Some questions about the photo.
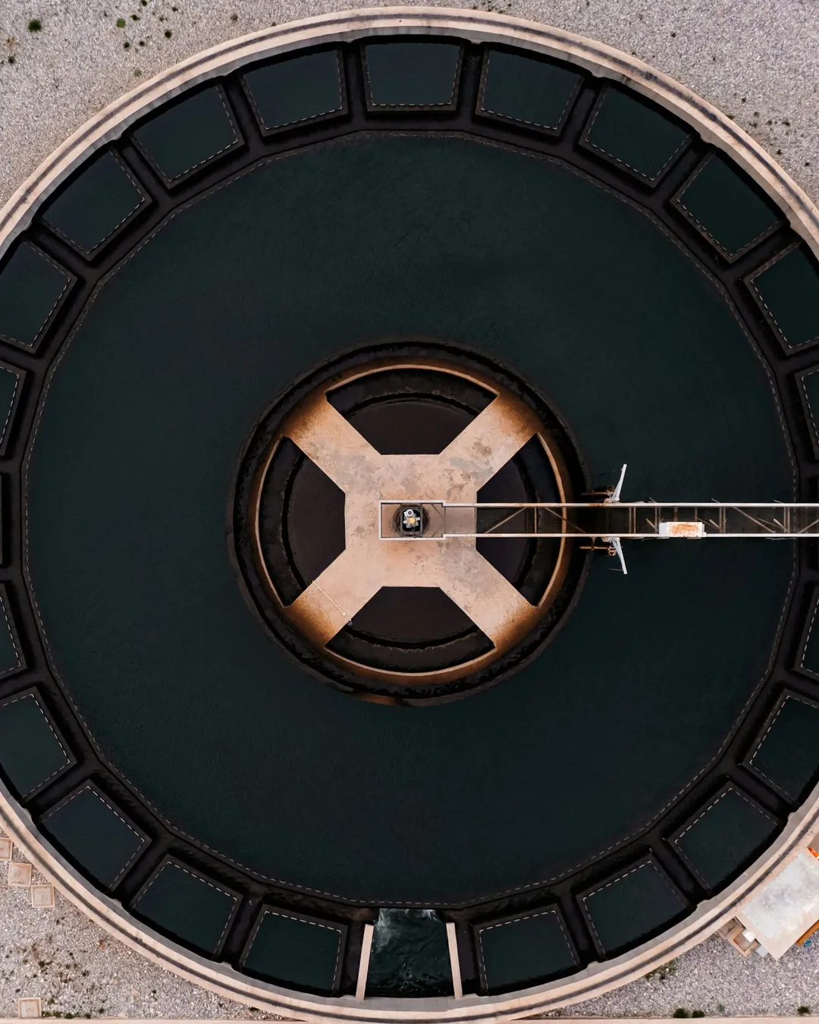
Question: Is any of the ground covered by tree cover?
No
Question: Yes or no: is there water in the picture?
Yes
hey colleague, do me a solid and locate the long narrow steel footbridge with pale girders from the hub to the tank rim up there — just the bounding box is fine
[379,464,819,575]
